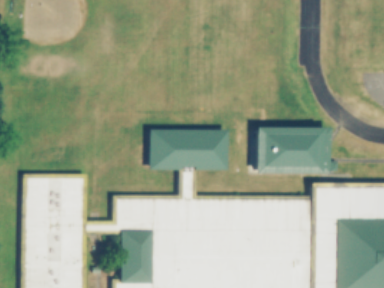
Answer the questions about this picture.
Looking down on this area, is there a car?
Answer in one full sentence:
No, no car is visible in the view.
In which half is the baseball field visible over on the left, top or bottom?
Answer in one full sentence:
The top half of the photo is where the baseball field visible over on the left is.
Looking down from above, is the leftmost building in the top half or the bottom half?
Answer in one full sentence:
The leftmost building sits in the bottom half of the picture.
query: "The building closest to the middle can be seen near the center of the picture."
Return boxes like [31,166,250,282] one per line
[149,129,229,171]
